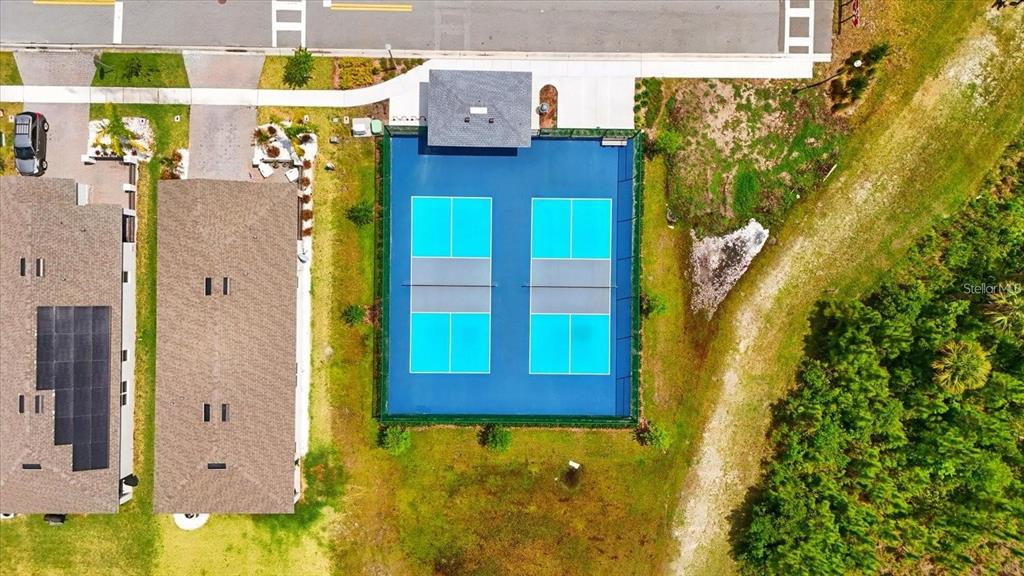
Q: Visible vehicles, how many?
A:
1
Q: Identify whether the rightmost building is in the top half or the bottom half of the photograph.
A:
top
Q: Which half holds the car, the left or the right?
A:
left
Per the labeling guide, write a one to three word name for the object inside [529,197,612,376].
sports court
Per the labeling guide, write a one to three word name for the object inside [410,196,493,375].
sports court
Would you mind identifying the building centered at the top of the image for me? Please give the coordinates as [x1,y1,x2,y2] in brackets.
[428,70,532,147]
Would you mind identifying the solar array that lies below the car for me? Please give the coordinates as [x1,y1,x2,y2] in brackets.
[37,306,111,470]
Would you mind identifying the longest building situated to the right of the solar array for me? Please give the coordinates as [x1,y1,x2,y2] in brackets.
[154,180,303,513]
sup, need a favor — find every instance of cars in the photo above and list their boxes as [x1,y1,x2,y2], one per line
[12,112,49,176]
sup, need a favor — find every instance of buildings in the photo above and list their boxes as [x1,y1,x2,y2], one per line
[154,180,303,513]
[0,176,142,514]
[428,70,532,147]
